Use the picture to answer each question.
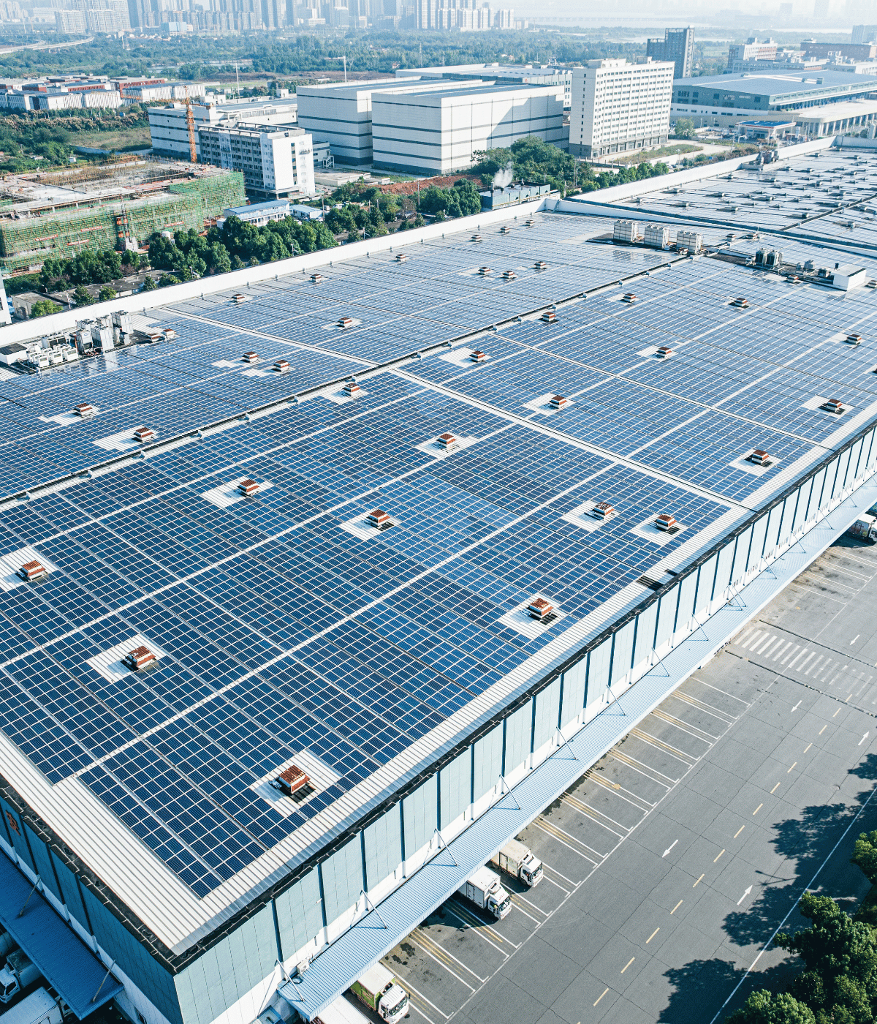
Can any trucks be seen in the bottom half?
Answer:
Yes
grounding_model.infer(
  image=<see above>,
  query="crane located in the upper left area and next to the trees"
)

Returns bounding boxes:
[114,83,220,163]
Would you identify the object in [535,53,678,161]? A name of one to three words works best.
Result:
building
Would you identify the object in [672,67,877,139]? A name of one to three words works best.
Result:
building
